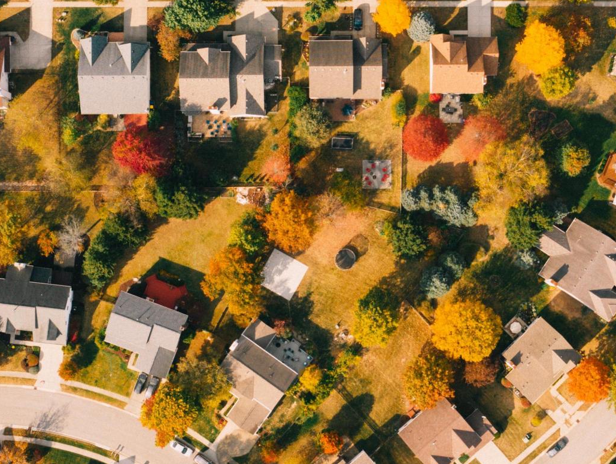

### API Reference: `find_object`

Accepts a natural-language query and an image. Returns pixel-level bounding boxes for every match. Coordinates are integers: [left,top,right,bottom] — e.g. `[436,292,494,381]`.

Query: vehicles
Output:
[353,8,364,30]
[545,435,569,458]
[134,373,147,393]
[145,377,158,395]
[171,439,192,456]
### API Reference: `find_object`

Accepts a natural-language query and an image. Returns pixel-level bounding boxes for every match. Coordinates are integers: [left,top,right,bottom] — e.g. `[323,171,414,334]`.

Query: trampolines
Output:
[332,136,353,148]
[335,248,356,268]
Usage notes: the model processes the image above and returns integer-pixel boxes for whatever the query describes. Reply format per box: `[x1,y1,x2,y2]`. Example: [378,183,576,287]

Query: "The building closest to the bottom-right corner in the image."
[502,317,583,407]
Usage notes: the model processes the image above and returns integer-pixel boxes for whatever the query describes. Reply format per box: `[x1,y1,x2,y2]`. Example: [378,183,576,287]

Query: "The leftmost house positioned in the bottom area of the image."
[0,263,74,346]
